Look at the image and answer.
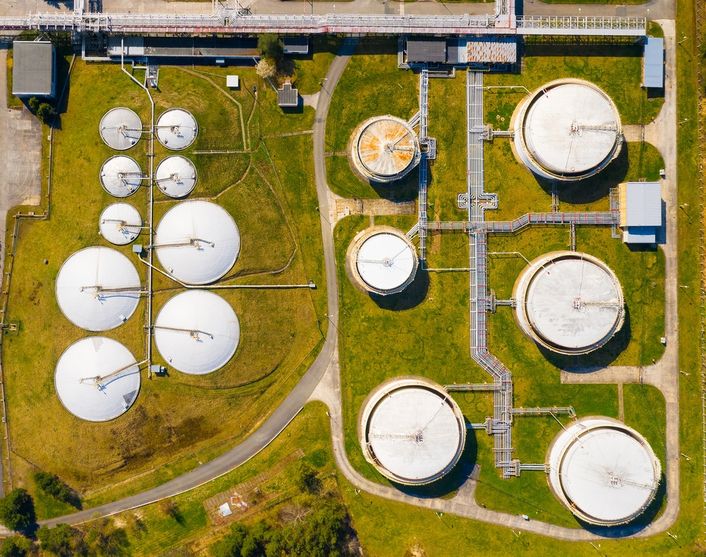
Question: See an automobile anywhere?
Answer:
No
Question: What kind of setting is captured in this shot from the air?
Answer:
industrial area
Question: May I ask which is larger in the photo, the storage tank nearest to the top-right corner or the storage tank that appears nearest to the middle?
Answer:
the storage tank nearest to the top-right corner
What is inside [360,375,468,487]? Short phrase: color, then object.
white storage tank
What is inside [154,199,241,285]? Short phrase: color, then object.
white storage tank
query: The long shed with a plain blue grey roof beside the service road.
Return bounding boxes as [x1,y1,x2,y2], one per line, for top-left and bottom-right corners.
[641,38,663,90]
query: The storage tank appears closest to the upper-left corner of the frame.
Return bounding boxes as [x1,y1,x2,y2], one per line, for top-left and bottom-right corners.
[99,108,143,151]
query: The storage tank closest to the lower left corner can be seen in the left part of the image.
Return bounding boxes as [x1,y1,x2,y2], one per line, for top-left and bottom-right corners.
[55,336,141,422]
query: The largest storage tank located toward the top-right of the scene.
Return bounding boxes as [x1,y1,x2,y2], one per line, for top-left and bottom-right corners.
[511,77,627,185]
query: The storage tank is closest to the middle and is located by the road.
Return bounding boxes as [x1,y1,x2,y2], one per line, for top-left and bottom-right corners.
[346,225,422,298]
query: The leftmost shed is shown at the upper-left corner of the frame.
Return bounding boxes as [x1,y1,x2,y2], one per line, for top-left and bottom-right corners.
[12,41,60,100]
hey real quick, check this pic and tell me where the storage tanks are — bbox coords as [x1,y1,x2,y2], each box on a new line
[156,108,199,151]
[99,108,143,151]
[55,336,141,422]
[360,375,468,487]
[514,252,627,355]
[511,77,627,185]
[100,155,143,198]
[154,290,240,375]
[347,114,423,190]
[549,417,667,529]
[99,203,143,245]
[57,247,141,332]
[346,225,422,298]
[154,199,241,285]
[155,155,198,198]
